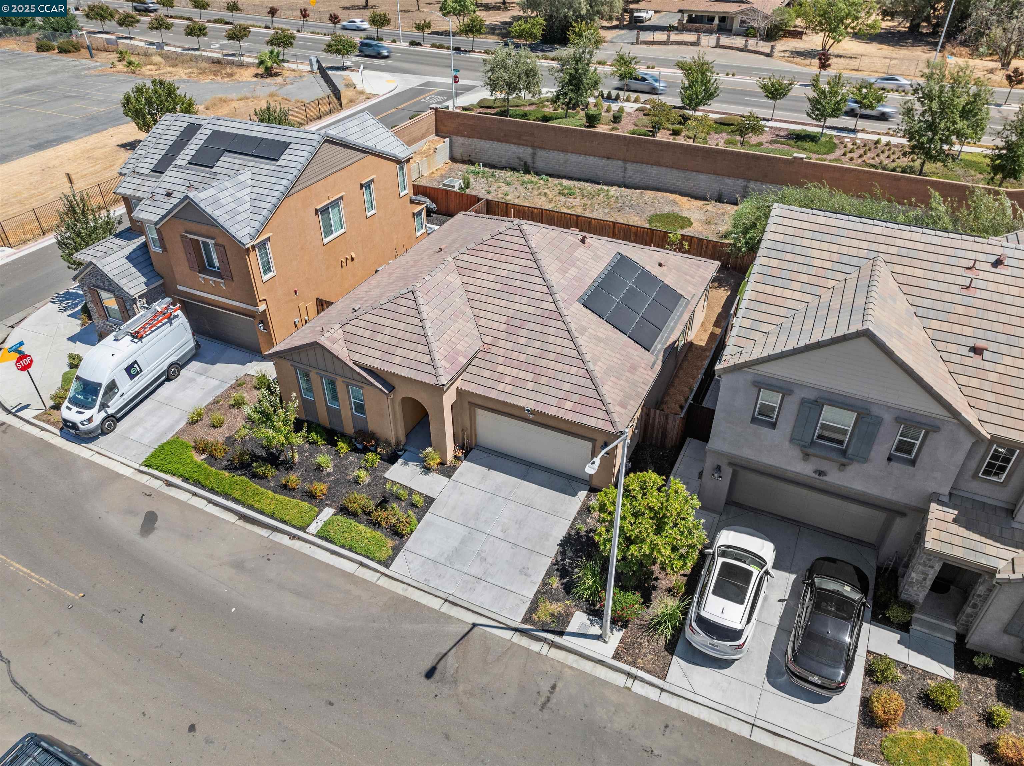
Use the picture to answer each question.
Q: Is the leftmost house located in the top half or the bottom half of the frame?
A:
top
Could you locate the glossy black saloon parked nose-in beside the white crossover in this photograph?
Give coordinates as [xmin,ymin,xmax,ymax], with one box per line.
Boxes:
[785,549,878,698]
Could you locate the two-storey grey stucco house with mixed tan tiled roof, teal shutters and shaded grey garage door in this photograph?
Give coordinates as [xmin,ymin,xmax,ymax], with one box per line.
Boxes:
[699,203,1024,668]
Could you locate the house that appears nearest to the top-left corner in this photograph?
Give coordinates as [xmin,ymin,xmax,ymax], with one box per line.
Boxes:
[66,110,431,356]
